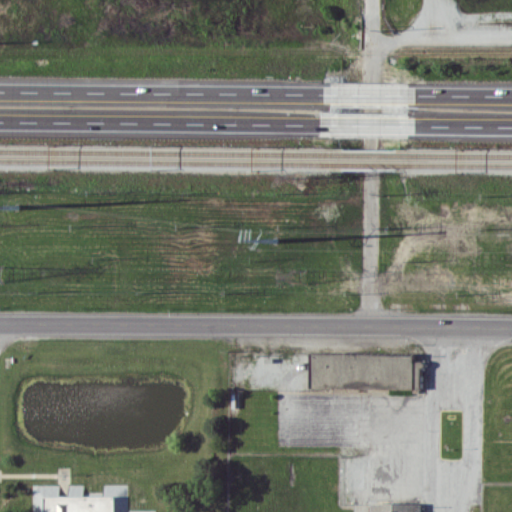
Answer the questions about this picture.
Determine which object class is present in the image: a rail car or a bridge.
bridge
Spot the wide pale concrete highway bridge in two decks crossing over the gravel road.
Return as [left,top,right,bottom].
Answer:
[319,84,416,139]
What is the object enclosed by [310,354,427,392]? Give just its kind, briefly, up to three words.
building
